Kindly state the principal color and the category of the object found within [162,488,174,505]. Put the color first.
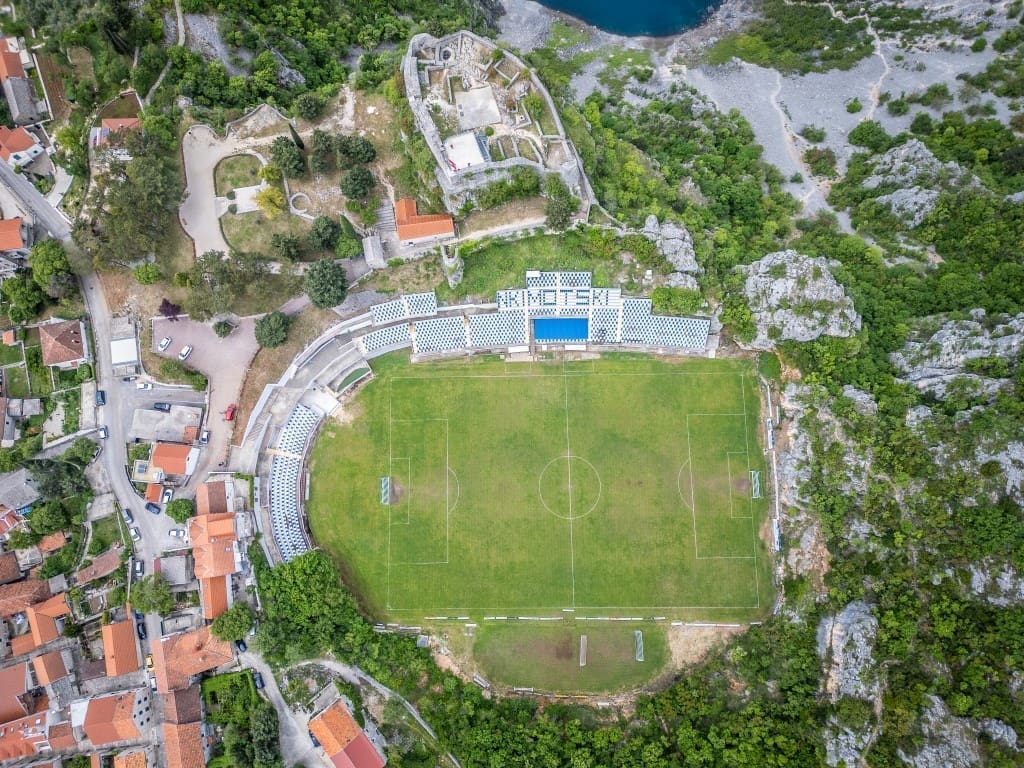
white vehicle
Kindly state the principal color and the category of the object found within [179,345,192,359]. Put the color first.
white vehicle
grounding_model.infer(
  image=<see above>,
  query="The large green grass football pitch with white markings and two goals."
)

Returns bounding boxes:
[306,355,779,627]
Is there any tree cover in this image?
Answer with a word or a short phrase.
Yes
